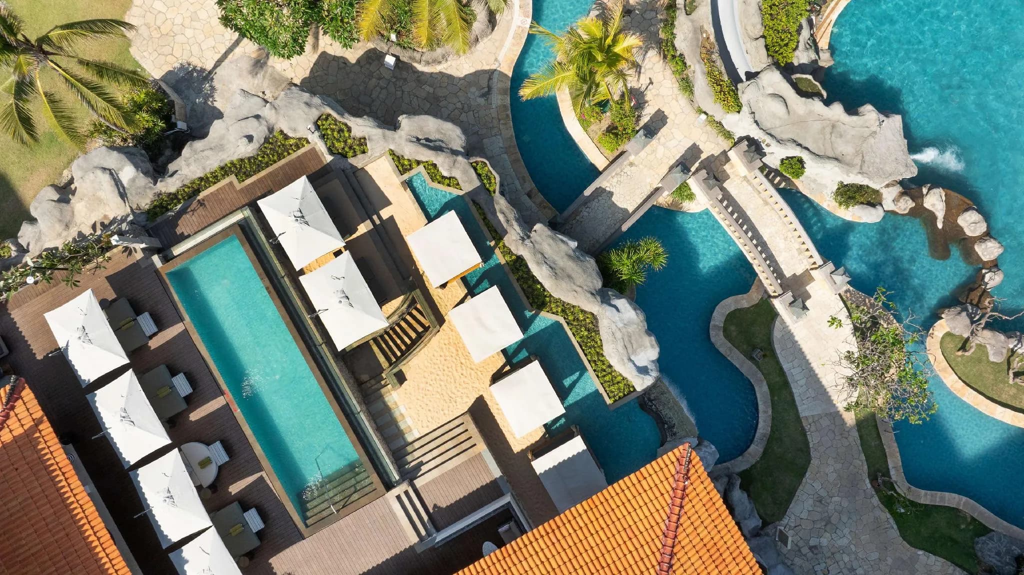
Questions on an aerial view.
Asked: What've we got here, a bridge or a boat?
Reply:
bridge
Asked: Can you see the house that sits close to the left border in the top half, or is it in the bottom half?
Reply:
bottom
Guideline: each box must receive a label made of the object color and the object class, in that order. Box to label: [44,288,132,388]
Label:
white umbrella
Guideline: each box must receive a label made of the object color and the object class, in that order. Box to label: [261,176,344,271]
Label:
white umbrella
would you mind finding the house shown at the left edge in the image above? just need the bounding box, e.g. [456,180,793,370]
[0,371,136,575]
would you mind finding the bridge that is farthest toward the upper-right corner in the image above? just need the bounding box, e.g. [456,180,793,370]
[700,168,825,302]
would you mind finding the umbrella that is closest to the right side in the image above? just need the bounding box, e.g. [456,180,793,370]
[303,253,386,348]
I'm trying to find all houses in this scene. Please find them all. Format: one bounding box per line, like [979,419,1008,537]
[0,371,136,575]
[446,439,763,575]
